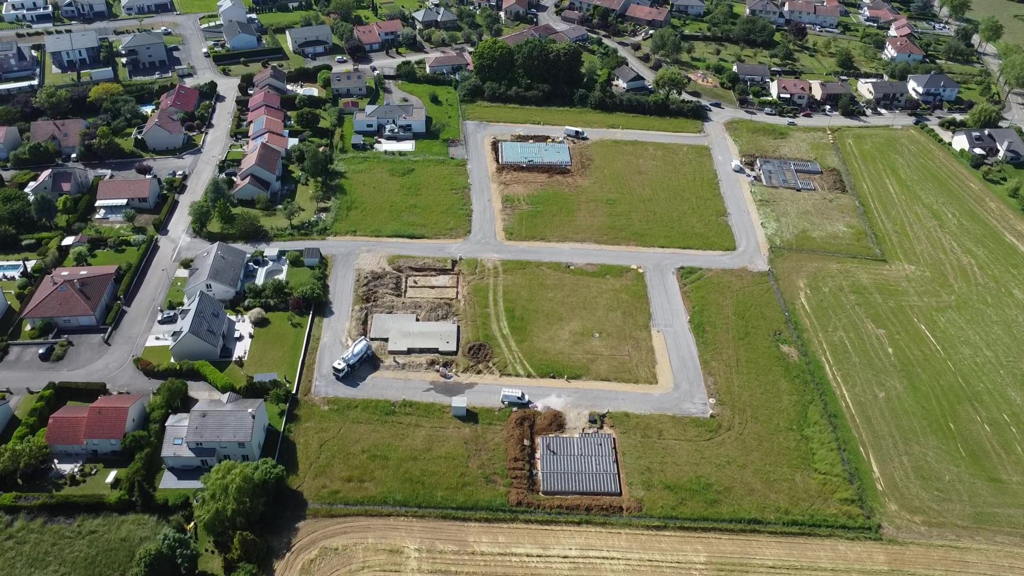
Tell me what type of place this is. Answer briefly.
residential area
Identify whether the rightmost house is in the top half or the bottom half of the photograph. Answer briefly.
top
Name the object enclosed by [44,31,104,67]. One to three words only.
house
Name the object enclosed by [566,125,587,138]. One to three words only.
vehicle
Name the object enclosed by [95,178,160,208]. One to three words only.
house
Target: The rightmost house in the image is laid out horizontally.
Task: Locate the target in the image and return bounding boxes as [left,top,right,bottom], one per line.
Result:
[949,126,1024,165]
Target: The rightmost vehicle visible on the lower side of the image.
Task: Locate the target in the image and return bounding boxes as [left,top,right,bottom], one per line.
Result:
[500,391,530,407]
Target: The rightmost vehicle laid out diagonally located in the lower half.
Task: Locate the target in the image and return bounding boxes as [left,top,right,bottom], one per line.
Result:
[332,337,377,380]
